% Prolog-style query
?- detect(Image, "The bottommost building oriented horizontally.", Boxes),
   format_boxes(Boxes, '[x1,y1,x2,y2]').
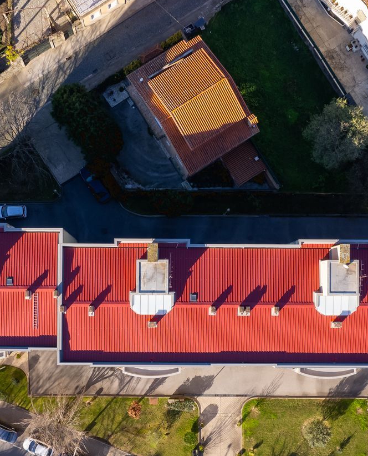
[58,238,368,379]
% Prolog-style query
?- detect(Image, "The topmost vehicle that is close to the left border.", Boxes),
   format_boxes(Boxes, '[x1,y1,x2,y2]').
[0,202,31,222]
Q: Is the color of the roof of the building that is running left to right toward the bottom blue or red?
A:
red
